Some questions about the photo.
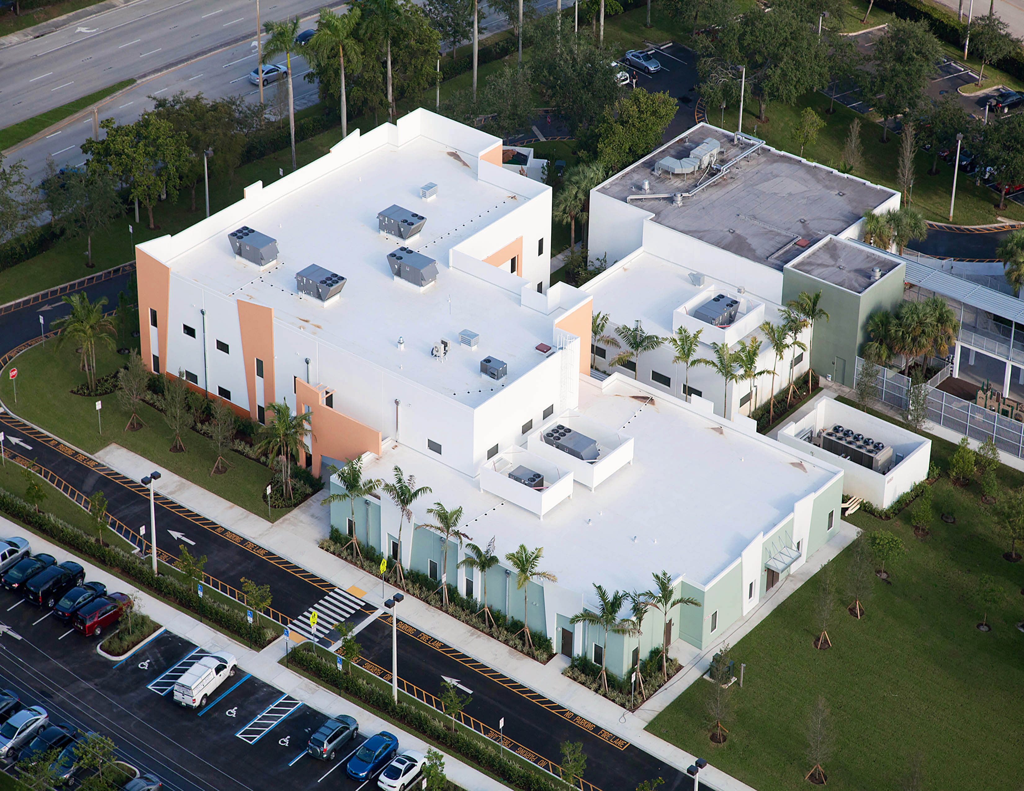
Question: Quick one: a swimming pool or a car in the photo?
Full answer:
This aerial view contains a car.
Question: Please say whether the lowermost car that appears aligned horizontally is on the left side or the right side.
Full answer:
The lowermost car that appears aligned horizontally is on the left side of the image.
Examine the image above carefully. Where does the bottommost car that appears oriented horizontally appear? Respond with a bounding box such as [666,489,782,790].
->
[111,766,165,791]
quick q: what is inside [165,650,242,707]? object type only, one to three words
truck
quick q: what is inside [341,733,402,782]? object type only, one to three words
car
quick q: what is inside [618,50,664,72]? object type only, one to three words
car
